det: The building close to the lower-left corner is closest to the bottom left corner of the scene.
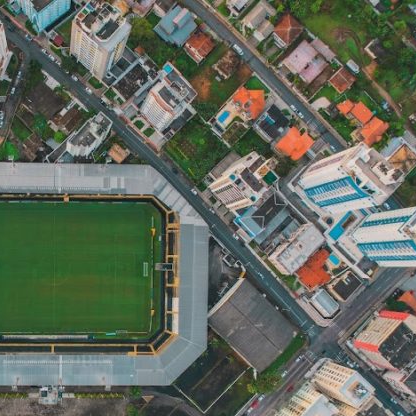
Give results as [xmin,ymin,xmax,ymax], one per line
[40,386,62,404]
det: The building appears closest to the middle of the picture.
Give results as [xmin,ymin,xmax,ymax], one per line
[203,191,239,231]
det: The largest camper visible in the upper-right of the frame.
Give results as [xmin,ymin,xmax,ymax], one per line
[346,57,363,73]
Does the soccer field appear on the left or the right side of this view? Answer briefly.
left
